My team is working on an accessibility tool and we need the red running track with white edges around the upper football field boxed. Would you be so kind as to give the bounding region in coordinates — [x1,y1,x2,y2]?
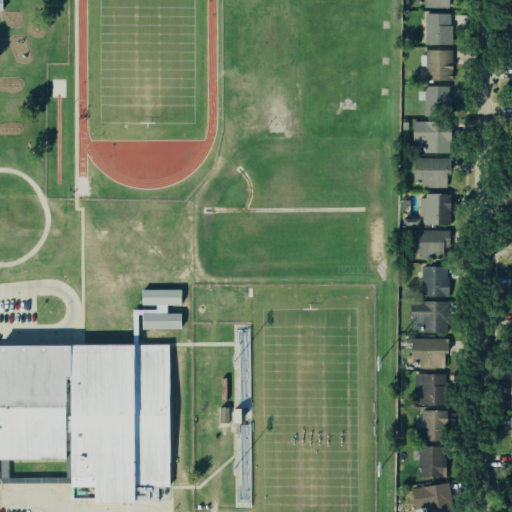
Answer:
[78,0,218,189]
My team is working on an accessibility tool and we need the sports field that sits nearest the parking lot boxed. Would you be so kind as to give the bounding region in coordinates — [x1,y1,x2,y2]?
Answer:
[263,309,358,512]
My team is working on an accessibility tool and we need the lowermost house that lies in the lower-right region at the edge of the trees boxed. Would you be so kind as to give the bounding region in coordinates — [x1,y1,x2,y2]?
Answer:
[412,483,453,512]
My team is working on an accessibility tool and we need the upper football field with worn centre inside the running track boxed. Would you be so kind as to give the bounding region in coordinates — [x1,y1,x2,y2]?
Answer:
[101,0,196,123]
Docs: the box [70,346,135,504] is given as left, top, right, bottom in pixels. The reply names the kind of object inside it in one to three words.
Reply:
building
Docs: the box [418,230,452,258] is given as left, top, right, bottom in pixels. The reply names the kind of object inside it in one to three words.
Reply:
house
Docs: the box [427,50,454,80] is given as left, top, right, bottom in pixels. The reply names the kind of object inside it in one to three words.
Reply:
house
